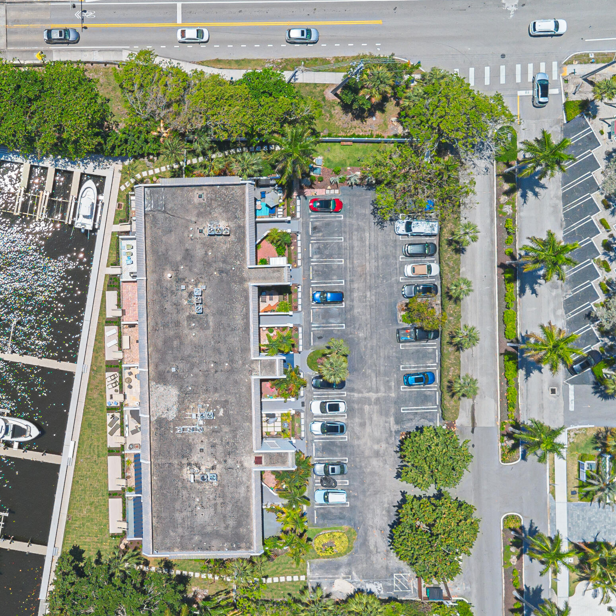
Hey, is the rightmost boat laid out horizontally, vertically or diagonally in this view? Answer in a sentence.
The rightmost boat has been laid out vertically relative to the frame.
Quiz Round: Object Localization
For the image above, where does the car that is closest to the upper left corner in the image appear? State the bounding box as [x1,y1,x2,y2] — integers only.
[43,26,79,44]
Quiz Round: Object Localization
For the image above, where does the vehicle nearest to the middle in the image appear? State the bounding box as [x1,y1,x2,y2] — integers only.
[311,289,345,306]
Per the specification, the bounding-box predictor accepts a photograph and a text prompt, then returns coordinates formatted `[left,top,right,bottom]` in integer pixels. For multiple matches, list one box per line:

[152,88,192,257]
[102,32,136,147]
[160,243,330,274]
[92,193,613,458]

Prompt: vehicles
[396,325,439,344]
[401,241,437,259]
[311,289,345,306]
[313,488,347,507]
[403,261,439,278]
[309,419,347,438]
[567,349,602,376]
[402,370,434,388]
[43,26,79,44]
[177,26,210,43]
[309,196,342,213]
[531,72,552,108]
[309,398,347,417]
[528,16,566,35]
[285,24,319,43]
[394,218,439,236]
[312,461,348,479]
[311,375,346,391]
[401,282,438,298]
